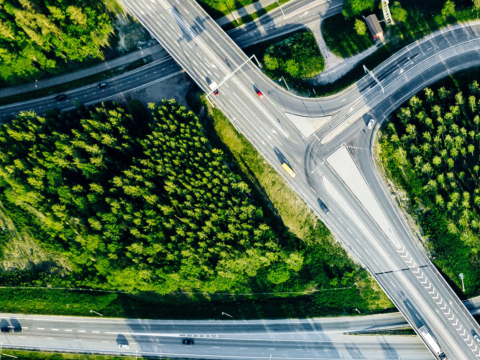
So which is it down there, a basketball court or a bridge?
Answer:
bridge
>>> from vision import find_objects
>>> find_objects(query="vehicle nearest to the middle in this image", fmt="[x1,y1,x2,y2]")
[280,161,295,177]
